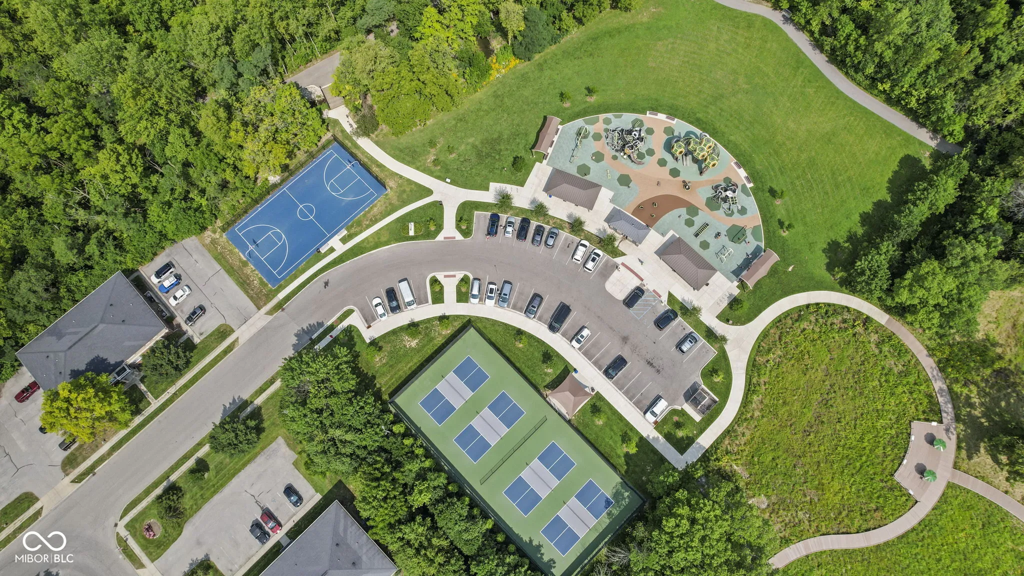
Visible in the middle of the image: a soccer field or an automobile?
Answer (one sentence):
You can see an automobile in the middle of the image.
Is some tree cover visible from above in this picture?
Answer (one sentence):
Yes, tree cover shows up in the scene.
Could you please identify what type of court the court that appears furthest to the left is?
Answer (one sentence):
I'd say the court that appears furthest to the left is a basketball court.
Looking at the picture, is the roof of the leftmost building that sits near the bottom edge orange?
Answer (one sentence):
No, from above the roof of the leftmost building that sits near the bottom edge looks gray.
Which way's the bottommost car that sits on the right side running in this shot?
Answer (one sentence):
I'd say the bottommost car that sits on the right side is aligned at an angle in the picture.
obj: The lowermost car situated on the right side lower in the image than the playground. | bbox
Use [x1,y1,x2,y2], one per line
[646,396,669,423]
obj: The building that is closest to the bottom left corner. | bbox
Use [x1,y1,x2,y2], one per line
[16,271,169,413]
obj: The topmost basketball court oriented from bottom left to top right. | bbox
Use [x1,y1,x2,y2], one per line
[224,142,387,288]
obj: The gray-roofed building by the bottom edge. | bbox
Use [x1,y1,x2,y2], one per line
[259,500,398,576]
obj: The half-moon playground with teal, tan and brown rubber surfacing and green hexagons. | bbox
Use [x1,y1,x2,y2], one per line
[546,114,764,283]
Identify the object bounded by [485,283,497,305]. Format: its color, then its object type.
white vehicle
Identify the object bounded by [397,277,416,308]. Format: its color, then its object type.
white vehicle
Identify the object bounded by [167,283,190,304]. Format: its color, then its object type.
white car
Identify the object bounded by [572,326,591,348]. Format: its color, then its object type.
white car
